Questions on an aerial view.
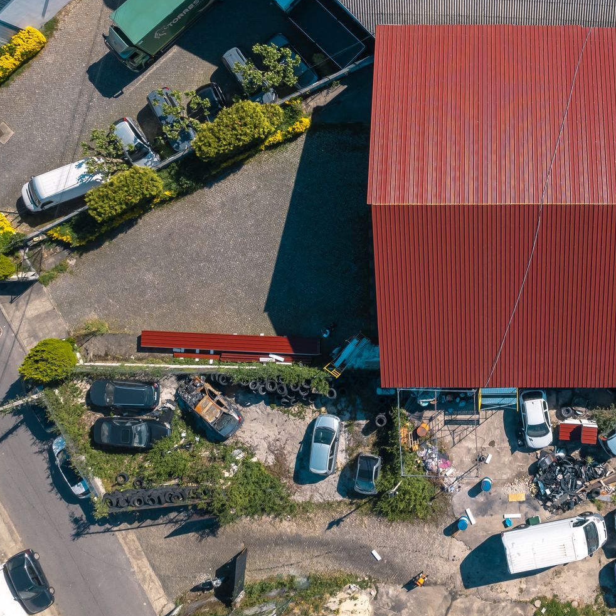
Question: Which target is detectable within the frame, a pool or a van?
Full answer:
I can see a van in this picture.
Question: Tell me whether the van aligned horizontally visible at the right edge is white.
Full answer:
Yes, the van aligned horizontally visible at the right edge is white.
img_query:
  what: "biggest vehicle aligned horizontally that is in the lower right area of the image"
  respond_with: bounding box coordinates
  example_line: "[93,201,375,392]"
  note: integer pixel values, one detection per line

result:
[508,510,608,568]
